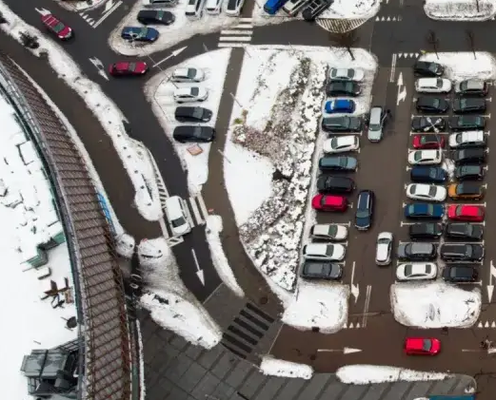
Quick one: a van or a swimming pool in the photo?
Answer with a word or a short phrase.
van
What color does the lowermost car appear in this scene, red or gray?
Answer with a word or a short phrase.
red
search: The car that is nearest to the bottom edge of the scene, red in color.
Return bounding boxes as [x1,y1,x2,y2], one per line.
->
[403,336,442,356]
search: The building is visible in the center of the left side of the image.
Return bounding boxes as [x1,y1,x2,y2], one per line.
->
[0,47,132,400]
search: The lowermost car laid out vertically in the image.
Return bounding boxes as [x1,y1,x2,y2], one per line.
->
[375,228,395,269]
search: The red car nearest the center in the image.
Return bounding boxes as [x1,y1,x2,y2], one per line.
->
[313,193,347,211]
